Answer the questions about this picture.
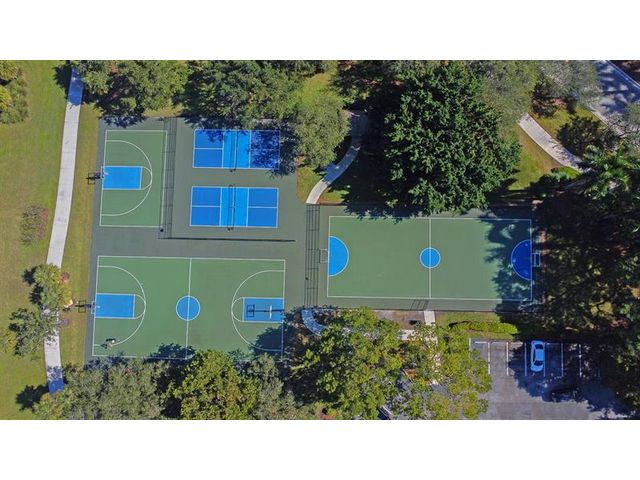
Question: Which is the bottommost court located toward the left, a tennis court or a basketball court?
basketball court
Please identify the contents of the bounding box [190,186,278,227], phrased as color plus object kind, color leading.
blue sports court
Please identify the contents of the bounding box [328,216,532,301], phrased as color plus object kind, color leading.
green sports court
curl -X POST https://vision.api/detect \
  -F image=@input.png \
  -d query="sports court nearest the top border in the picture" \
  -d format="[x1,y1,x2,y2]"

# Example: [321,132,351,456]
[192,129,280,169]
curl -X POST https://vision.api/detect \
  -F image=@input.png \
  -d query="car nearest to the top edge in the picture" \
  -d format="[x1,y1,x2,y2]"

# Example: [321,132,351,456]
[529,342,546,374]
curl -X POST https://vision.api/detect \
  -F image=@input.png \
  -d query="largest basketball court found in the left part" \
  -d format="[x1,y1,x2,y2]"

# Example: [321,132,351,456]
[92,256,284,361]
